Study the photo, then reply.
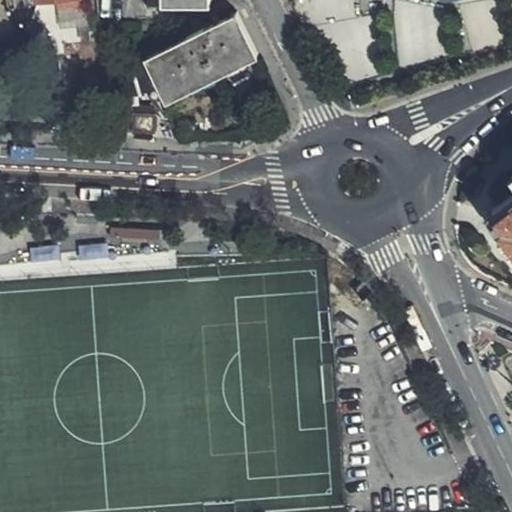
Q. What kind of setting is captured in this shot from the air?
sports ground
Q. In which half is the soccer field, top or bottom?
bottom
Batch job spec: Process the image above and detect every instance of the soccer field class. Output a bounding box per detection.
[0,258,344,512]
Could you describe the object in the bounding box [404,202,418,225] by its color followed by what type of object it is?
gray car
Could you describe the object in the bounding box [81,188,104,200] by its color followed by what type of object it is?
white vehicle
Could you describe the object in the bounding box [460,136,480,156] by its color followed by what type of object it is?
white car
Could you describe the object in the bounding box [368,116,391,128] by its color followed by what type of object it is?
white vehicle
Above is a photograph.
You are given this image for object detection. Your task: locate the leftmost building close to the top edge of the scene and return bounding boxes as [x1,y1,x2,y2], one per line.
[32,0,93,52]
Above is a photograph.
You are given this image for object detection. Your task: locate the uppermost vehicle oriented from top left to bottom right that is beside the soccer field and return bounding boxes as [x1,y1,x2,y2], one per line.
[336,312,358,330]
